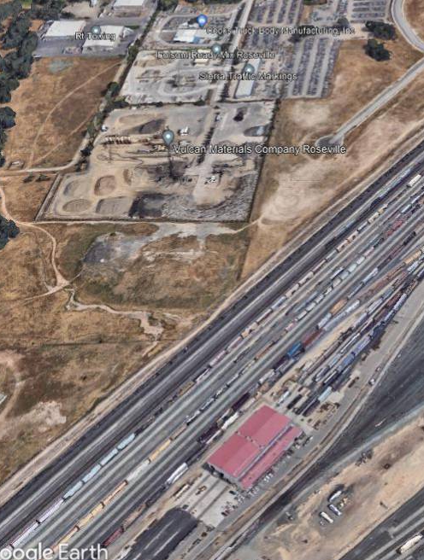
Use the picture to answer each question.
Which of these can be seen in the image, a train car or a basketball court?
train car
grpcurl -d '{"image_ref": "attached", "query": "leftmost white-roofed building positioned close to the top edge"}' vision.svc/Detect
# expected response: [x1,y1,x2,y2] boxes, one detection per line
[44,21,88,40]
